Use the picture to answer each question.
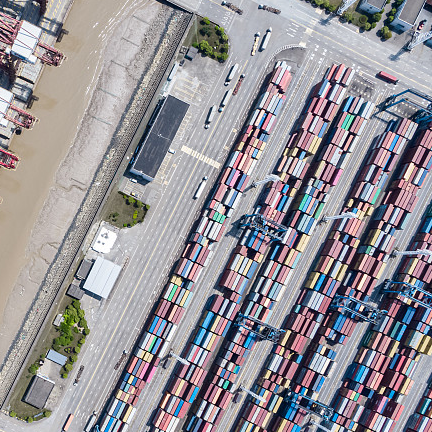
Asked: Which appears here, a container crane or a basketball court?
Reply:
container crane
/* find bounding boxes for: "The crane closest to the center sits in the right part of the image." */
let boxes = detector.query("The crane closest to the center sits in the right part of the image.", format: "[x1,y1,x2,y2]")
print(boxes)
[237,211,291,241]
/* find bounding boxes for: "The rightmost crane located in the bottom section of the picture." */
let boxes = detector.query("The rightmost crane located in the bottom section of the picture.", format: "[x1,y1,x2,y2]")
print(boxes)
[380,280,432,310]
